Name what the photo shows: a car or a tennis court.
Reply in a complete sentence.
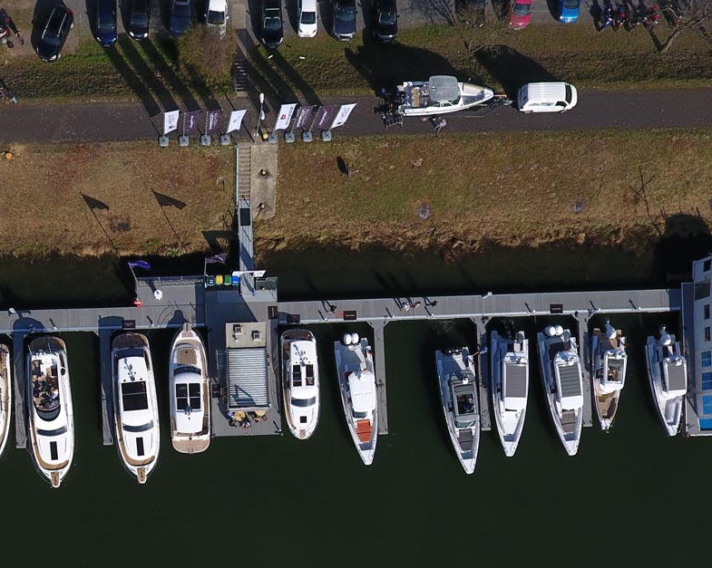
The image shows a car.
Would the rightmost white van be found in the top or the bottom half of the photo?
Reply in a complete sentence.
The rightmost white van is in the top half of the image.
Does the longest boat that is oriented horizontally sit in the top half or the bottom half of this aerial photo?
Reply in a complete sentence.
The longest boat that is oriented horizontally is in the top half of the image.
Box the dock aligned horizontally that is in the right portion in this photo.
[279,288,681,324]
